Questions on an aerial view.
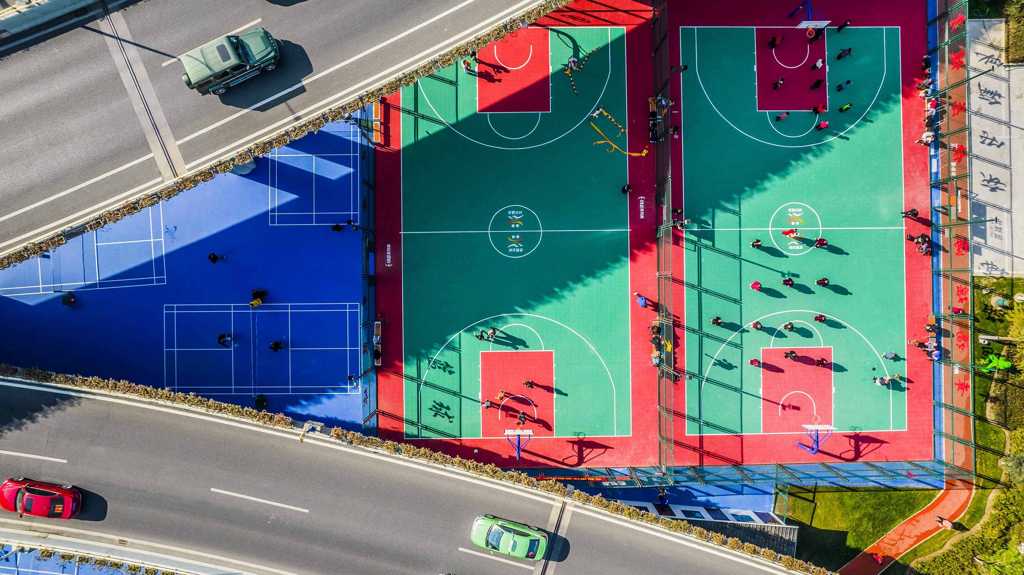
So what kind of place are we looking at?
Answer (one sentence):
What you see here is a sports ground.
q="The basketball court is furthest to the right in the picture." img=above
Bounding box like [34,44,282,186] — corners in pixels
[655,0,934,466]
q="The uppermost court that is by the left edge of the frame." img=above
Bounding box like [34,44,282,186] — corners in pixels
[0,206,166,297]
